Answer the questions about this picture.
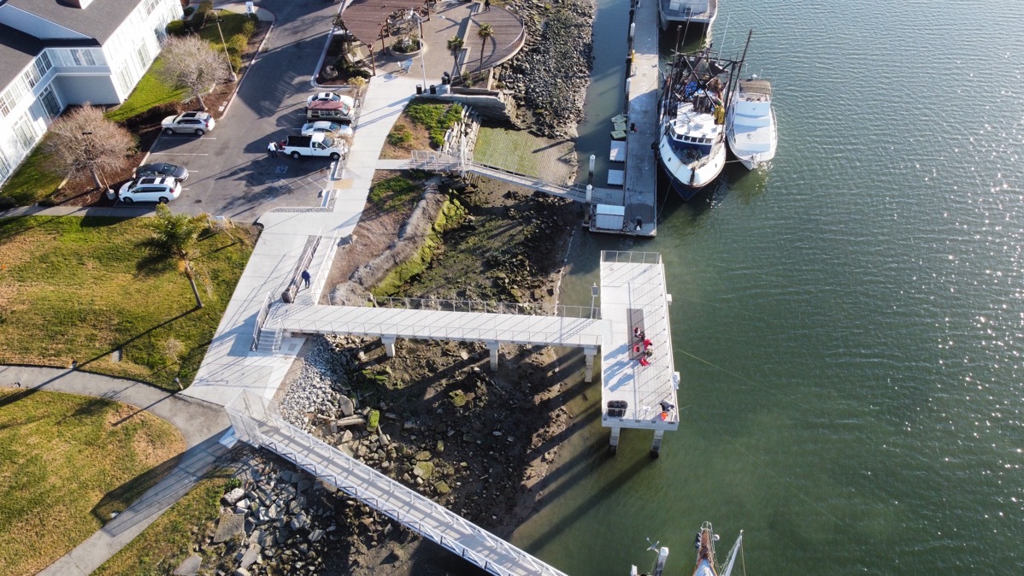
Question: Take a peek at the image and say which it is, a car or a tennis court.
car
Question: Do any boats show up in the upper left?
No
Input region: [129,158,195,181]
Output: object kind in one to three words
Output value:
car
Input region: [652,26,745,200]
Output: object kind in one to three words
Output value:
boat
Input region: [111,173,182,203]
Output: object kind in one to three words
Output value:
car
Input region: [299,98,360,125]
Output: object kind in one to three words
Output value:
vehicle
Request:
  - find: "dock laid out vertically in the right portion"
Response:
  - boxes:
[588,0,659,240]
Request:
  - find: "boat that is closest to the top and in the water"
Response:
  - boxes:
[661,0,717,38]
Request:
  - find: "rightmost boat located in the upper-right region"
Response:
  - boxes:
[723,59,777,176]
